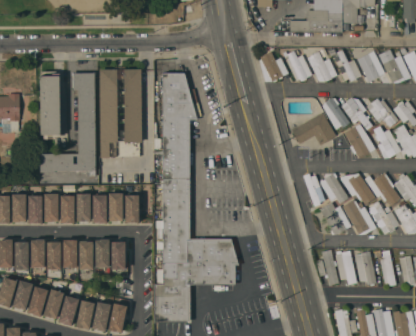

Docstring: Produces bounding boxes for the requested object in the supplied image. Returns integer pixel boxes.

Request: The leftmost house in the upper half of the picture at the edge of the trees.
[0,86,21,124]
